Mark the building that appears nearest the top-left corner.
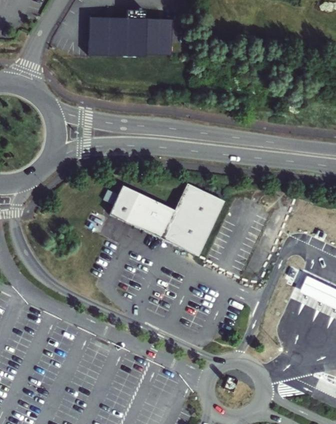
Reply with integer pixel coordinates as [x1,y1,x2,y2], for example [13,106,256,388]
[88,9,173,57]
